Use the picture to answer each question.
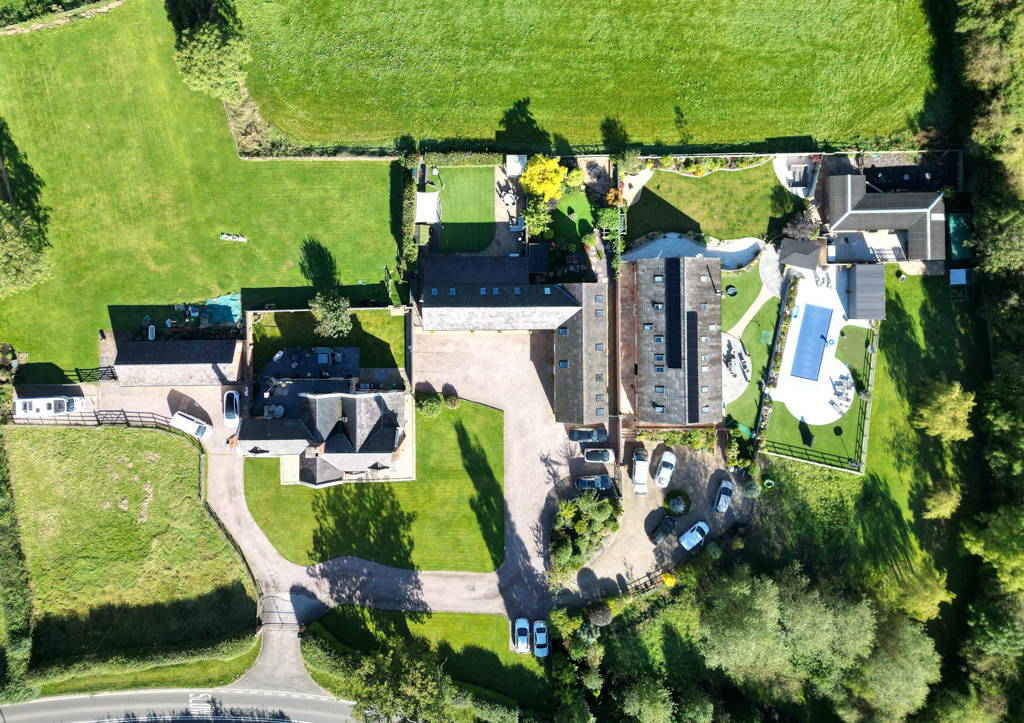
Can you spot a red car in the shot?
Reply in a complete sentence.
No, there's no red car here.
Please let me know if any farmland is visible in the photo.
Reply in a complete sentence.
Yes, farmland can be seen from above here.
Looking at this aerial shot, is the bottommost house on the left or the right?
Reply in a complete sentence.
The bottommost house sits on the left side.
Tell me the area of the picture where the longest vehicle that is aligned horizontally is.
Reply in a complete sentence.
The longest vehicle that is aligned horizontally appears toward the left of the photo.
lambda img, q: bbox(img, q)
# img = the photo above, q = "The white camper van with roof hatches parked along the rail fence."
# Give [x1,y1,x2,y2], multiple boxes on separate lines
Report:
[14,397,88,418]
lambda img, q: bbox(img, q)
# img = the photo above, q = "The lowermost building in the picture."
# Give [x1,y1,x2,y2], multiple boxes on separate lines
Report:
[225,394,410,486]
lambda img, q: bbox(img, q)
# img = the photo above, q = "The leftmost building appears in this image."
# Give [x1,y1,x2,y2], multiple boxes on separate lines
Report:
[103,339,248,385]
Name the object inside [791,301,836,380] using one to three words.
swimming pool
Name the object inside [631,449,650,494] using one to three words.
vehicle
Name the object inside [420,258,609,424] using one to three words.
barn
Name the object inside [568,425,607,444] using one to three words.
car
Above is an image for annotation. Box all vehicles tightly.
[647,514,677,546]
[652,450,675,489]
[583,446,616,464]
[677,519,709,552]
[532,618,550,656]
[171,409,216,439]
[568,425,607,444]
[223,391,242,426]
[512,616,530,653]
[712,479,734,513]
[14,397,88,418]
[631,449,650,494]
